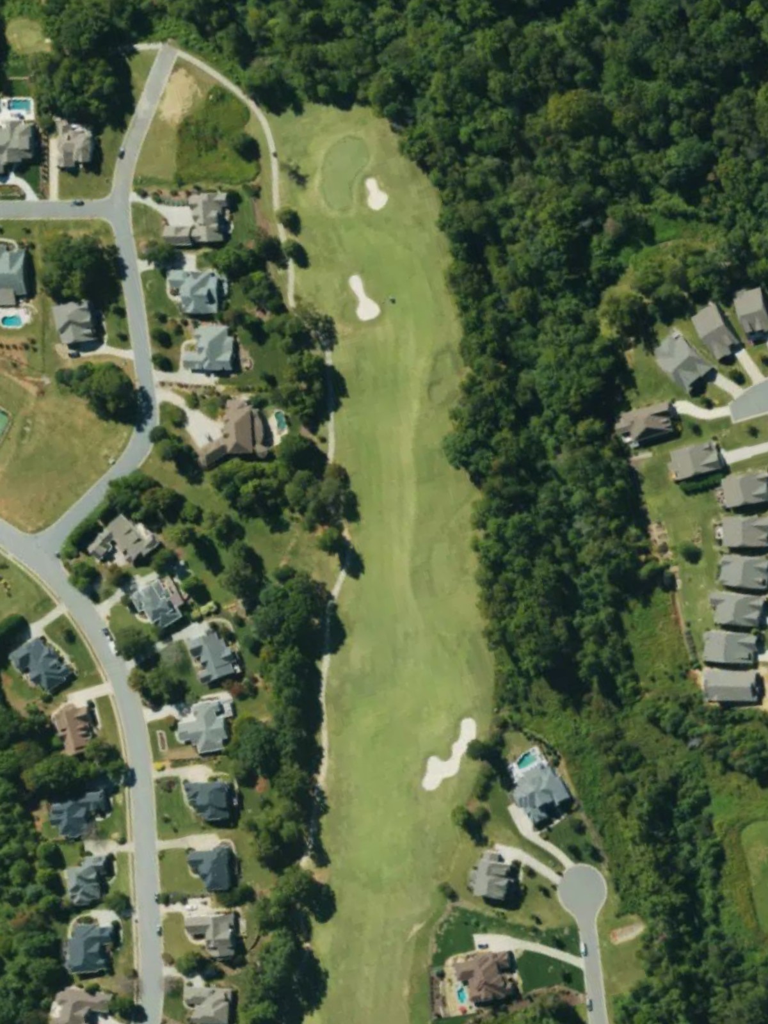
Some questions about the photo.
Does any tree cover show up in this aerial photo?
Yes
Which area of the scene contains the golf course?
center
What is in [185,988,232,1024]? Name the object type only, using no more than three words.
house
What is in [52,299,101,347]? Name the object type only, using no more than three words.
house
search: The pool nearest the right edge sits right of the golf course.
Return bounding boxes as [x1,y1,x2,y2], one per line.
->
[517,750,536,769]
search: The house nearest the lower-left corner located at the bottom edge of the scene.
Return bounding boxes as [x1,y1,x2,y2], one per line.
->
[53,983,114,1024]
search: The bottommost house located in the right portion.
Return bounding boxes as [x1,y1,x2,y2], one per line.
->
[454,947,517,1002]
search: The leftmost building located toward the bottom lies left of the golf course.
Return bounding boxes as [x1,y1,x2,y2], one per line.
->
[9,636,71,694]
